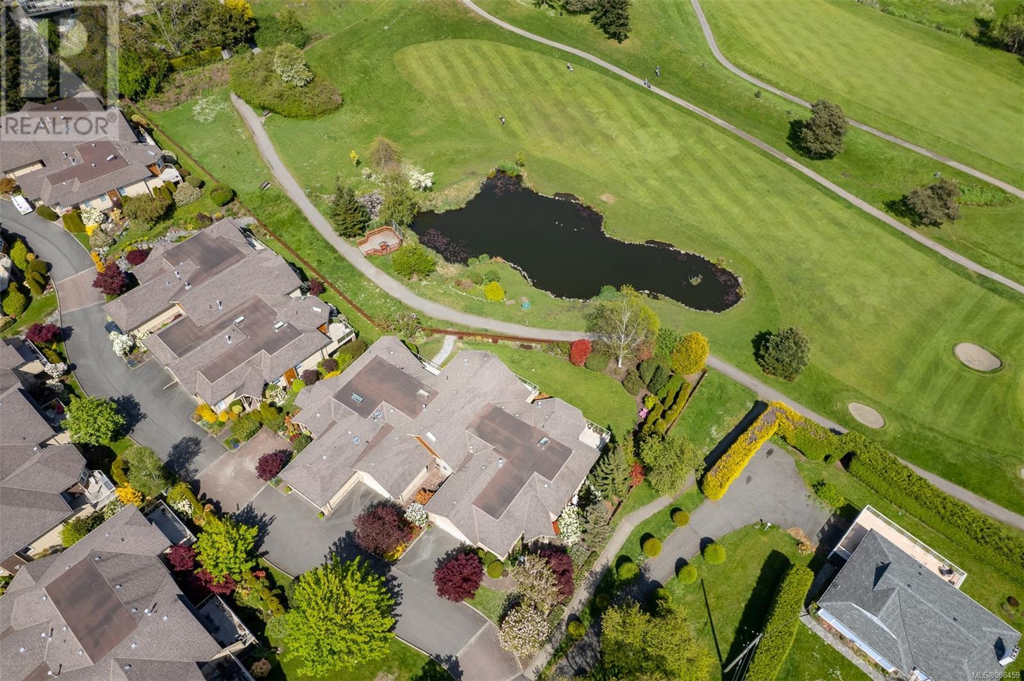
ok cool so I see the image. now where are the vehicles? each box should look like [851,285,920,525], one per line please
[100,319,120,336]
[9,189,37,222]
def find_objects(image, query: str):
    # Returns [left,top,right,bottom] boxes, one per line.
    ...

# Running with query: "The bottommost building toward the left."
[0,499,257,681]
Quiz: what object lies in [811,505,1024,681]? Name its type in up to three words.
house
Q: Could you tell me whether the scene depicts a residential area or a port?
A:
residential area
